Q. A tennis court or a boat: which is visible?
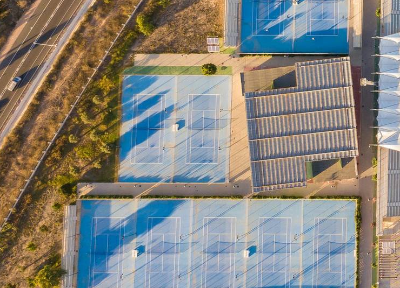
tennis court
